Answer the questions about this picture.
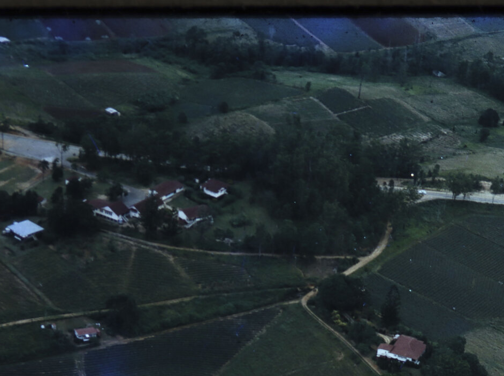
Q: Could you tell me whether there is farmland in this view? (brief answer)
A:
Yes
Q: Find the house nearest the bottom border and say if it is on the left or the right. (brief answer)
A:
right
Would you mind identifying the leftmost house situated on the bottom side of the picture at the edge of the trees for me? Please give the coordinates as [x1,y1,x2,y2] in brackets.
[7,218,48,241]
